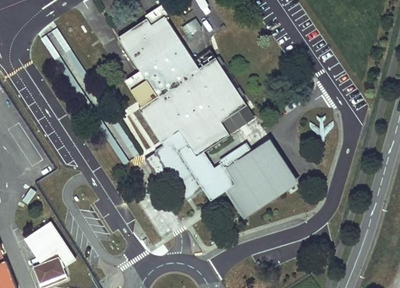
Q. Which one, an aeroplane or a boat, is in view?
aeroplane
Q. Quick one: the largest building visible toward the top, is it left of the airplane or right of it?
to its left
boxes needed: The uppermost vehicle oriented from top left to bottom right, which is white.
[197,0,210,15]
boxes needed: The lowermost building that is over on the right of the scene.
[218,139,298,218]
